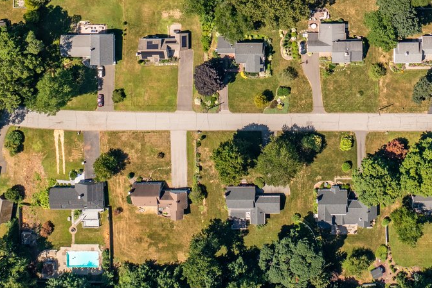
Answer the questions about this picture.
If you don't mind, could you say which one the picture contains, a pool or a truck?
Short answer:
pool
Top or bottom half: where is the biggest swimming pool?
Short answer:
bottom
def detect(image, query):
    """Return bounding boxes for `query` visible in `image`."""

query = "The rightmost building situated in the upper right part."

[393,35,432,65]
